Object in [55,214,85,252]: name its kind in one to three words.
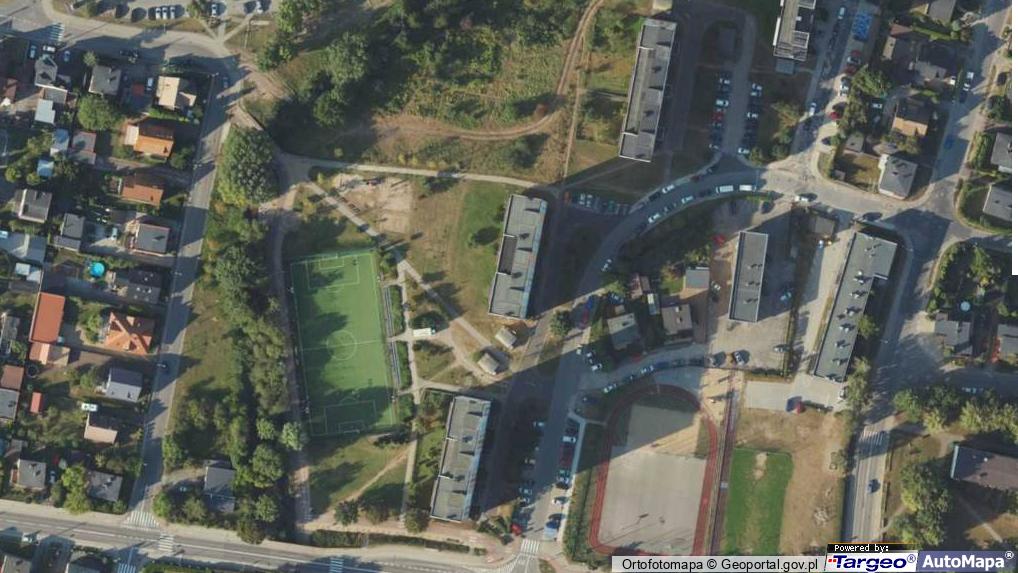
house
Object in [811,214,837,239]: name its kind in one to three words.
shed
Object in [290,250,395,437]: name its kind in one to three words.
soccer field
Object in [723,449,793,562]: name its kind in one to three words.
sports field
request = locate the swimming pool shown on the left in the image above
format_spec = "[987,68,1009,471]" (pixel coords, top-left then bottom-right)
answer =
[89,261,105,277]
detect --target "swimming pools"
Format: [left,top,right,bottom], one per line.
[960,300,970,310]
[89,261,105,277]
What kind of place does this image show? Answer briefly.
residential area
